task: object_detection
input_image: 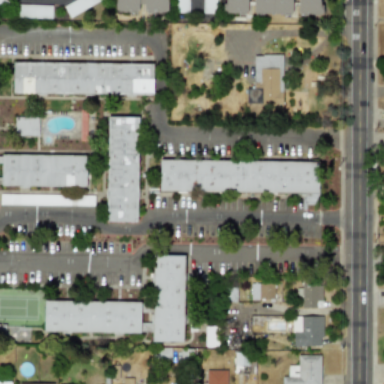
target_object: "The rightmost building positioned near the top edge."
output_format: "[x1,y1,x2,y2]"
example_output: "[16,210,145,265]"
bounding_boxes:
[298,0,325,15]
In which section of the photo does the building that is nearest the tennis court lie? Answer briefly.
bottom left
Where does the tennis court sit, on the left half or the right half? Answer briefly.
left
